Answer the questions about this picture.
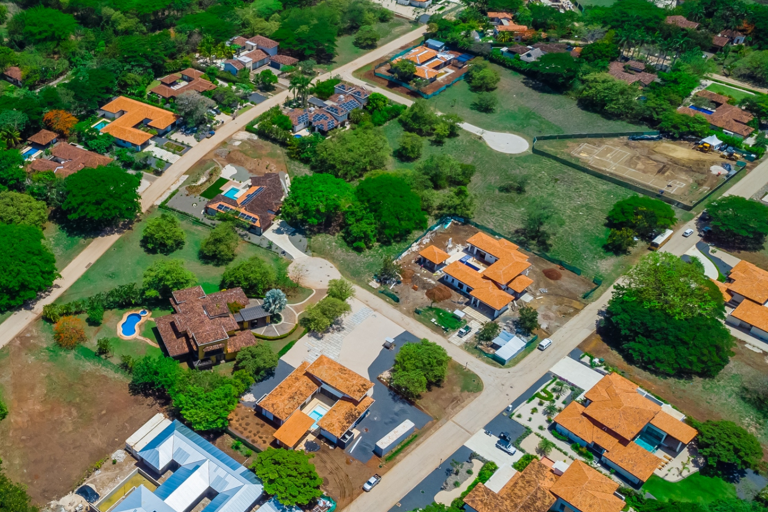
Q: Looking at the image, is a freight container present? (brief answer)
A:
Yes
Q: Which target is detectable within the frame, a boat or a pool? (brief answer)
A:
pool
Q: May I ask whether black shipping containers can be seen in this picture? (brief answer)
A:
No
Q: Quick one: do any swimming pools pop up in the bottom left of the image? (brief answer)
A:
Yes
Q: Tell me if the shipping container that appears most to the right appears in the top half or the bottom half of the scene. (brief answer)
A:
bottom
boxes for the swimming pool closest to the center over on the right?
[458,252,482,272]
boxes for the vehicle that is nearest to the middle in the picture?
[454,324,475,339]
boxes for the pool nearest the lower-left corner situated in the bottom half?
[98,468,156,512]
